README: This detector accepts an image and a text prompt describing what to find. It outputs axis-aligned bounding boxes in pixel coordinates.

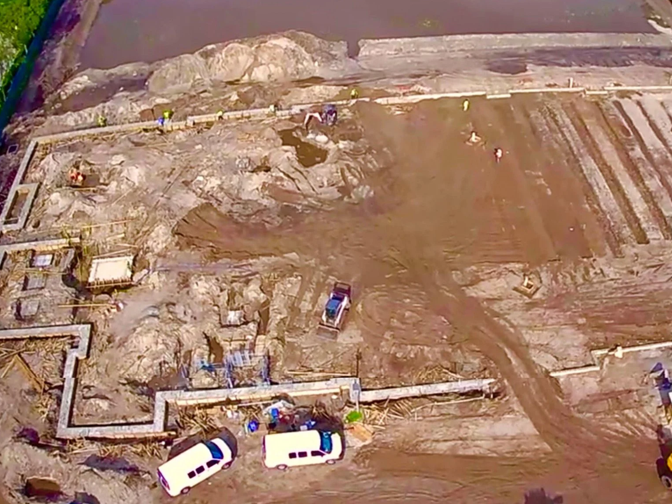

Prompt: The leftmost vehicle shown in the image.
[151,443,242,504]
